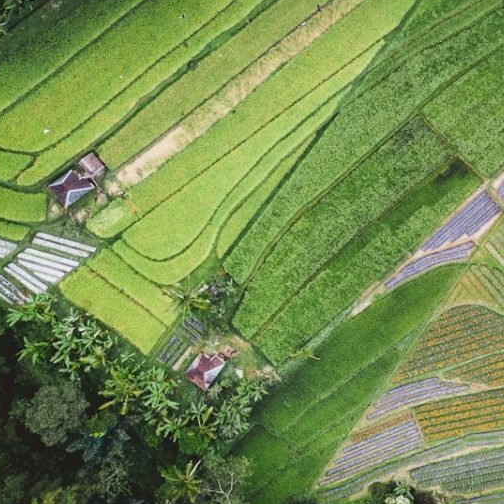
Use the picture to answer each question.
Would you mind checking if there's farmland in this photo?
Yes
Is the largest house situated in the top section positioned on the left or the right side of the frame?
left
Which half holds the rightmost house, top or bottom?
bottom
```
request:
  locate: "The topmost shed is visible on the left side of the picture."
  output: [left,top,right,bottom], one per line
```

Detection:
[78,152,106,176]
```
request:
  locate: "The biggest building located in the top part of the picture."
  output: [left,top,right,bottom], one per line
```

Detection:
[47,169,97,210]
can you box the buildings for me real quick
[184,352,227,392]
[47,169,97,210]
[78,152,106,176]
